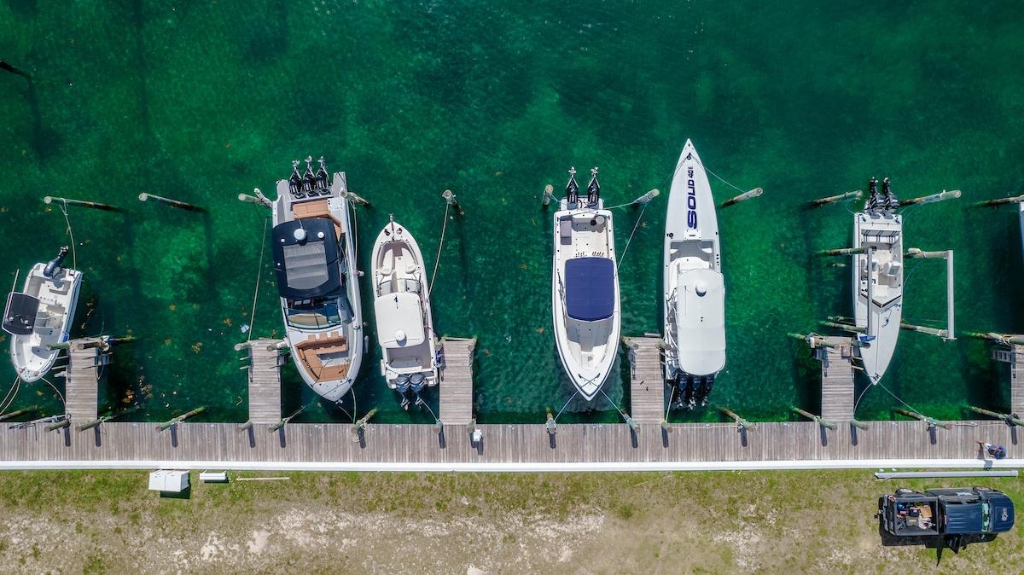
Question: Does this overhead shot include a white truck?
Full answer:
No, no white truck is visible in the scene.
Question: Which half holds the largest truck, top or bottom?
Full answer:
It is in the bottom half that the largest truck appears.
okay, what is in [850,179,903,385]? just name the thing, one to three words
boat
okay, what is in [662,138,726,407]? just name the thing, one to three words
boat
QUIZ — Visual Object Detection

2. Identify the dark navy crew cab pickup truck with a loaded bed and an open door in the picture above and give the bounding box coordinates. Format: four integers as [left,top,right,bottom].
[874,487,1016,557]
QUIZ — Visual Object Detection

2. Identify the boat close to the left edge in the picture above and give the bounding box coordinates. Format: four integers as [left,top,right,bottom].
[2,244,88,382]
